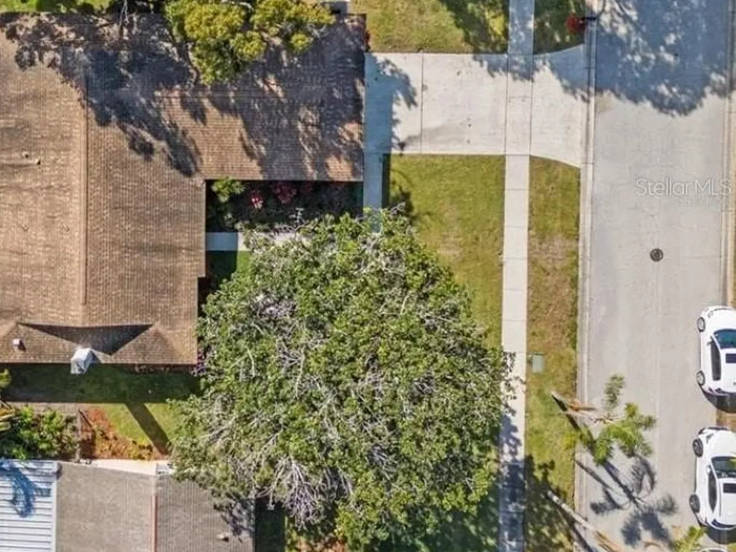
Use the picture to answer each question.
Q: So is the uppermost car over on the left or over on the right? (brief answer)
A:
right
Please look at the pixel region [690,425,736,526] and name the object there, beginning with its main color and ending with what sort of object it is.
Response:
white car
